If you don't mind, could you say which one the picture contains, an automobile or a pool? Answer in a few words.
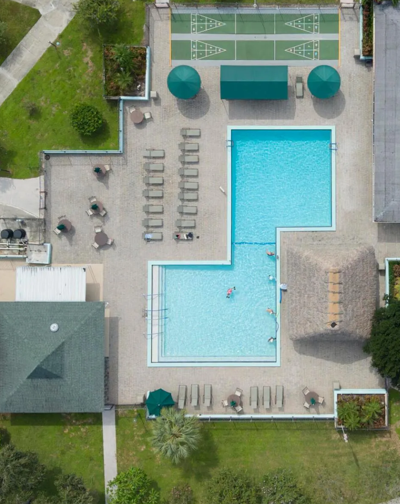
pool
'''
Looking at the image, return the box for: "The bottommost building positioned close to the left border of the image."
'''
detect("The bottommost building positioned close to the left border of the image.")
[0,267,107,413]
